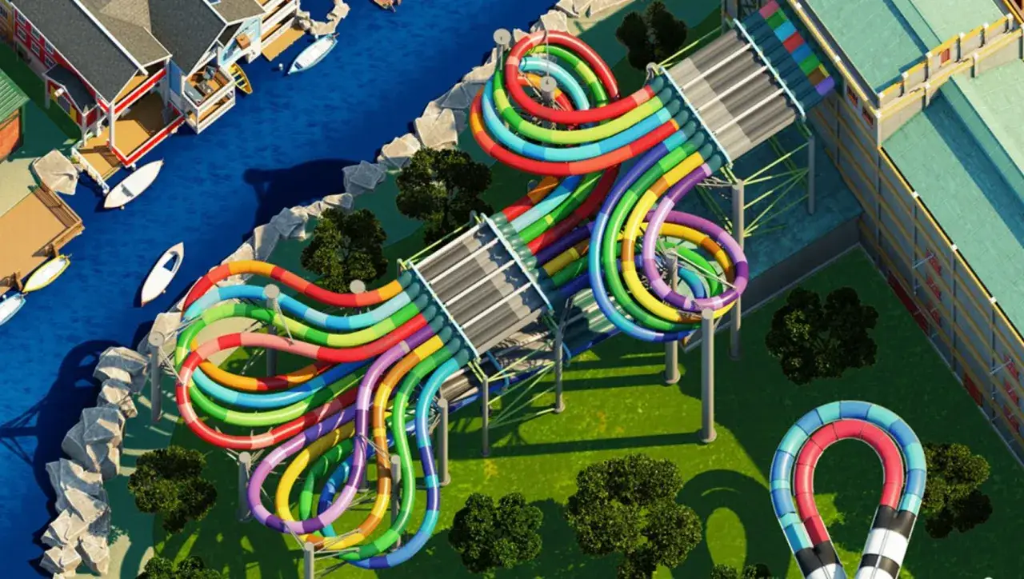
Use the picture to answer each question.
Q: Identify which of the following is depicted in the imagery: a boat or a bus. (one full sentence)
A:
Of the two, only a boat appears.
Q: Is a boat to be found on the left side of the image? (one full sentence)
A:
Yes, a boat can be seen on the left side of the image.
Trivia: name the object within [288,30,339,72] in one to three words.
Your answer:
boat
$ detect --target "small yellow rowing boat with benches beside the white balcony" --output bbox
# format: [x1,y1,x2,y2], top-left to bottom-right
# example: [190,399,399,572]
[229,60,255,95]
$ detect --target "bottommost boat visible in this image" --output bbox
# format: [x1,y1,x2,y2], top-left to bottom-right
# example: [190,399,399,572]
[0,289,27,321]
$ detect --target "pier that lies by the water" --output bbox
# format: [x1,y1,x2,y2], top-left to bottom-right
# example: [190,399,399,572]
[262,15,312,67]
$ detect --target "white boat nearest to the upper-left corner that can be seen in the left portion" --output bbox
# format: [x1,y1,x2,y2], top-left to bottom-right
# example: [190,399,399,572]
[104,157,163,208]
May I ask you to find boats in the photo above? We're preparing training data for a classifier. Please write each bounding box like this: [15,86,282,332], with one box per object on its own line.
[288,30,339,72]
[104,157,163,208]
[22,251,72,290]
[229,60,255,95]
[373,0,398,8]
[141,239,184,304]
[0,289,27,321]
